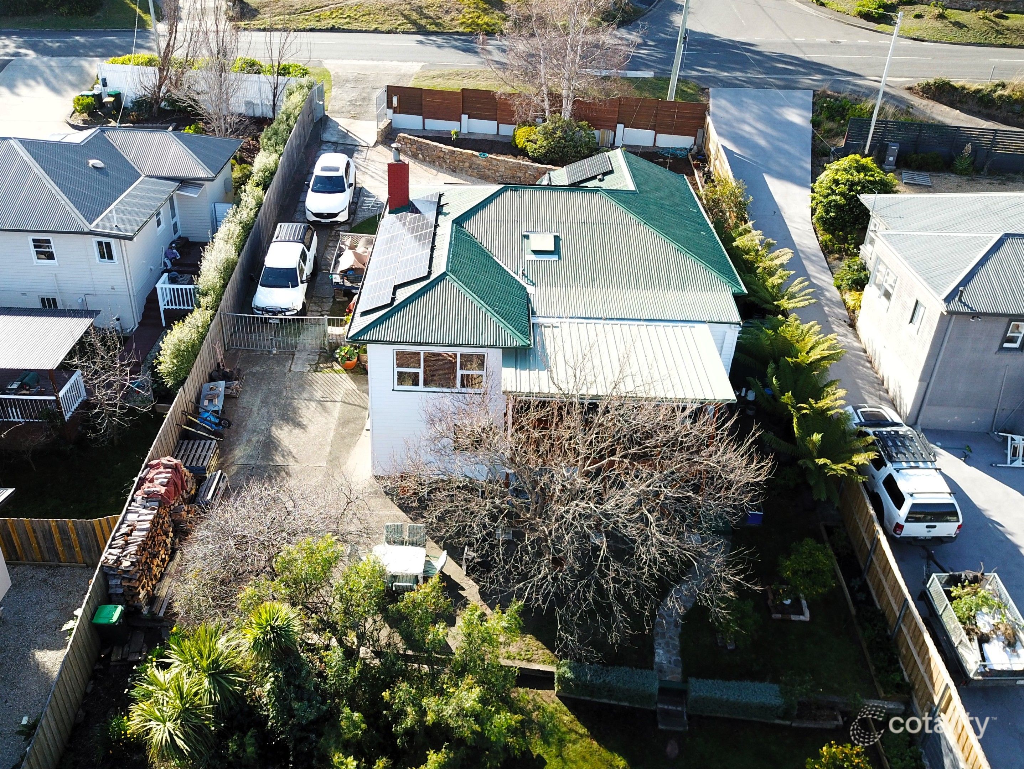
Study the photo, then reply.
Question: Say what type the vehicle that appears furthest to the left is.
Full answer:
It looks like the vehicle that appears furthest to the left is a truck.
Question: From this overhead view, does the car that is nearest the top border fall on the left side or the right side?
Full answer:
It is on the left.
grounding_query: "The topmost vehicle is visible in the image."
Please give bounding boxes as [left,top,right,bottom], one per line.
[301,153,354,220]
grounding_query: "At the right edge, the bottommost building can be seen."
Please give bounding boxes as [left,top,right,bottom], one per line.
[849,188,1024,426]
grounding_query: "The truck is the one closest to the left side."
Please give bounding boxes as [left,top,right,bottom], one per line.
[249,215,317,317]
